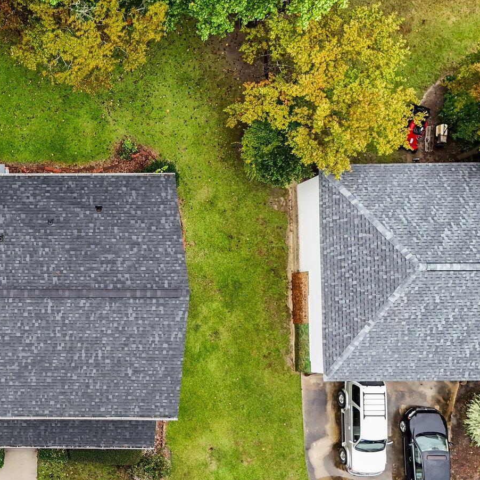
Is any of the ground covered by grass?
Yes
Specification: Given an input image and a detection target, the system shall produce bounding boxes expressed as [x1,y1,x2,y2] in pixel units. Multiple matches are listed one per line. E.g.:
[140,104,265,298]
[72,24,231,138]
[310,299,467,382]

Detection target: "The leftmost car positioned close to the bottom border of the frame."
[340,380,396,476]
